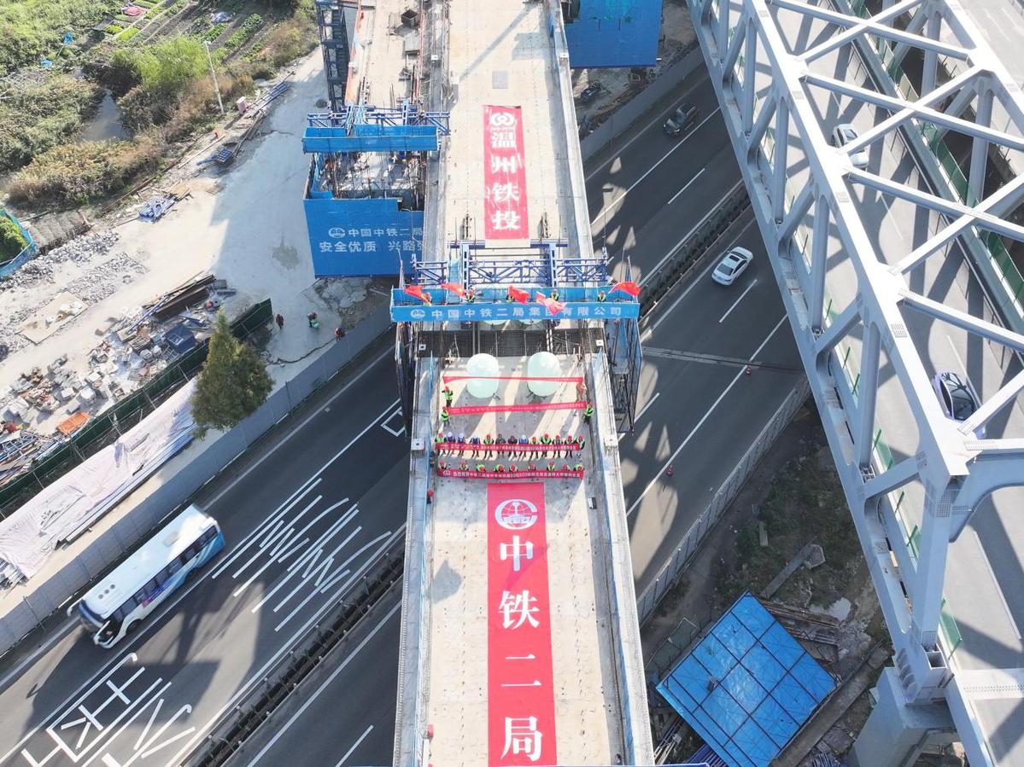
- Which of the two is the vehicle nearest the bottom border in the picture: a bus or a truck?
bus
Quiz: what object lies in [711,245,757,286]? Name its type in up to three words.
car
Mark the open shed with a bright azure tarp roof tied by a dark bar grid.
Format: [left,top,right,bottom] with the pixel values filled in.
[652,591,837,767]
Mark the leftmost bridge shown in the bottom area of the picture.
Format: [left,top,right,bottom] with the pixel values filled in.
[395,343,649,767]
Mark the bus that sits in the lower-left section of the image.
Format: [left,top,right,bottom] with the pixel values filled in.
[52,487,231,647]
